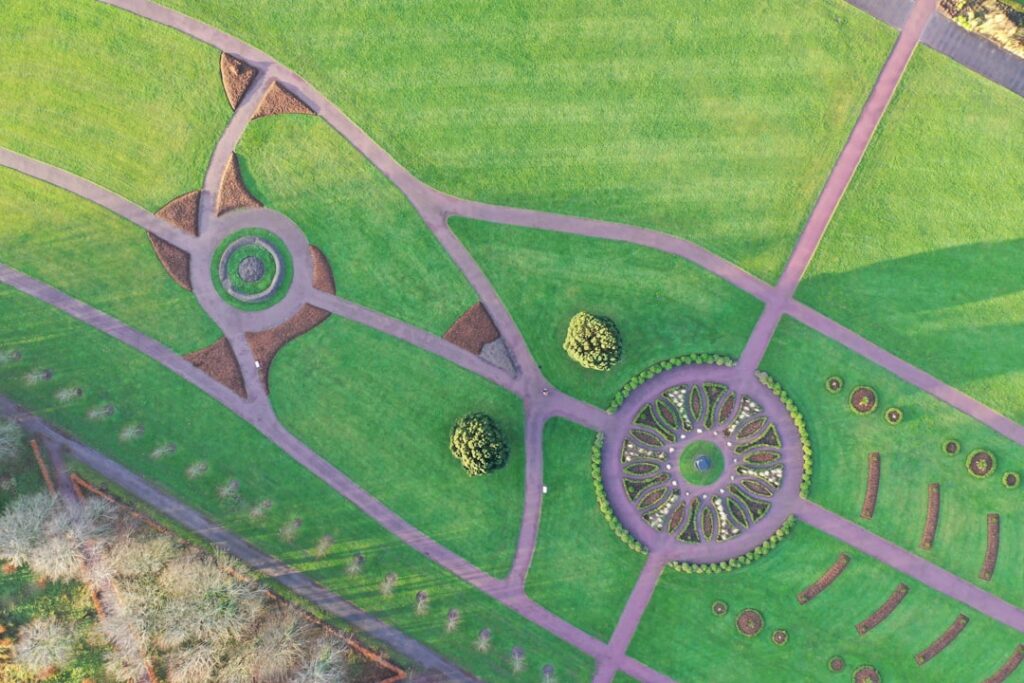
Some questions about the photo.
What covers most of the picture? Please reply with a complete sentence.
Most of the picture is covered by grass.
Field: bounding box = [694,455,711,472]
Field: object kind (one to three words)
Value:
fountain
